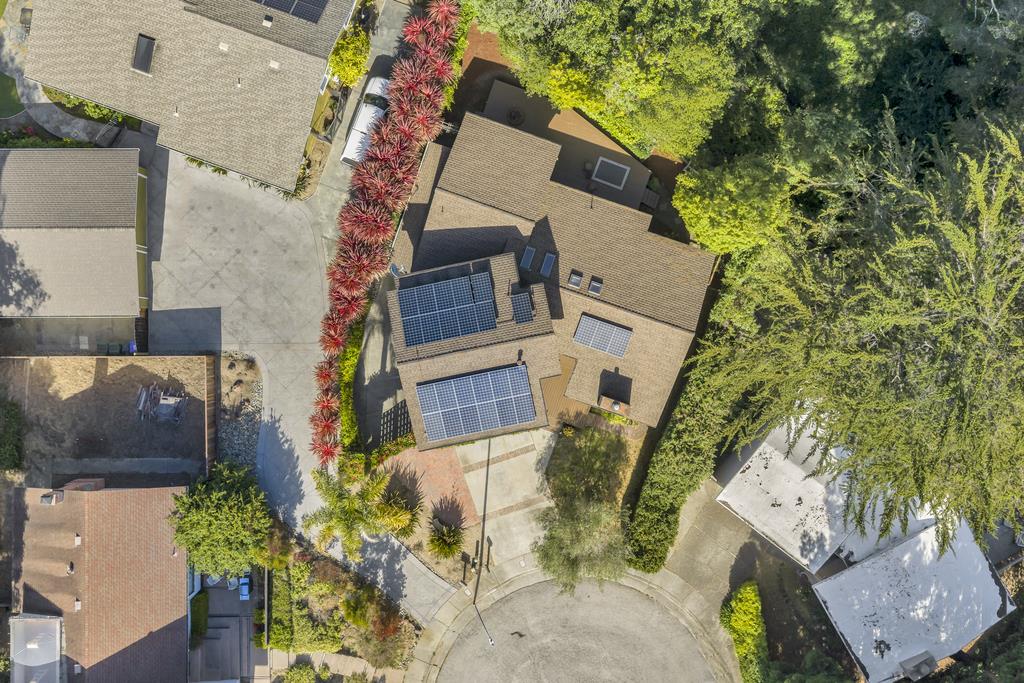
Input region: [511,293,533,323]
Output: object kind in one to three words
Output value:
solar panel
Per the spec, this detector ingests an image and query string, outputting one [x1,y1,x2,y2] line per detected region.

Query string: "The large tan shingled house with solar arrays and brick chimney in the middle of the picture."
[383,112,716,453]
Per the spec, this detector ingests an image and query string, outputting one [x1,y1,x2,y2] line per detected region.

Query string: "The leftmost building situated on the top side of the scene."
[0,147,149,320]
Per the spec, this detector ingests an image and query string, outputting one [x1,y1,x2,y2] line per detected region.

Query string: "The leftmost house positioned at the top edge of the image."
[24,0,363,194]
